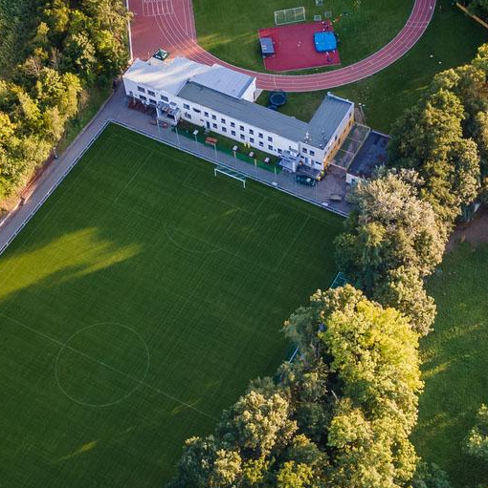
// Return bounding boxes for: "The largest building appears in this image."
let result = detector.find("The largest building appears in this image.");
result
[123,55,355,170]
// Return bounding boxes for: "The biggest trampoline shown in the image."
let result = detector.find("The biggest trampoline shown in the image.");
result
[269,93,286,107]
